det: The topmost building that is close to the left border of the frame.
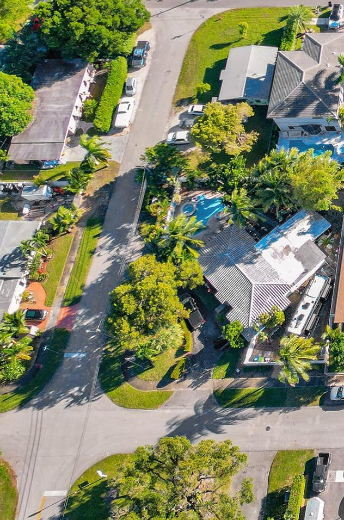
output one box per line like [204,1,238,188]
[7,58,95,165]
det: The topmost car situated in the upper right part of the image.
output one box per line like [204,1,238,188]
[329,5,343,28]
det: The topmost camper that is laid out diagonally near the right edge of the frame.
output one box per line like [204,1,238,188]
[287,271,335,332]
